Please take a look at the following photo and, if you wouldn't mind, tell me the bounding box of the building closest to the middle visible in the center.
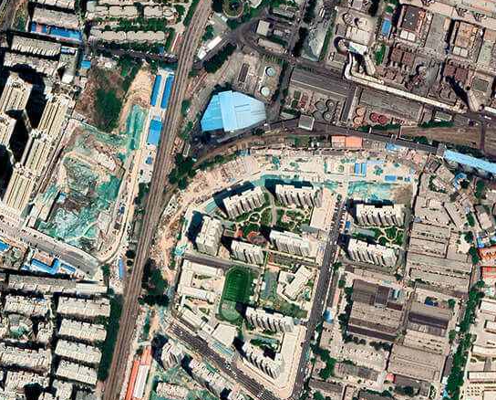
[223,188,268,225]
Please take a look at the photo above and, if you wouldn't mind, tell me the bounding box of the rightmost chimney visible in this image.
[466,87,480,113]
